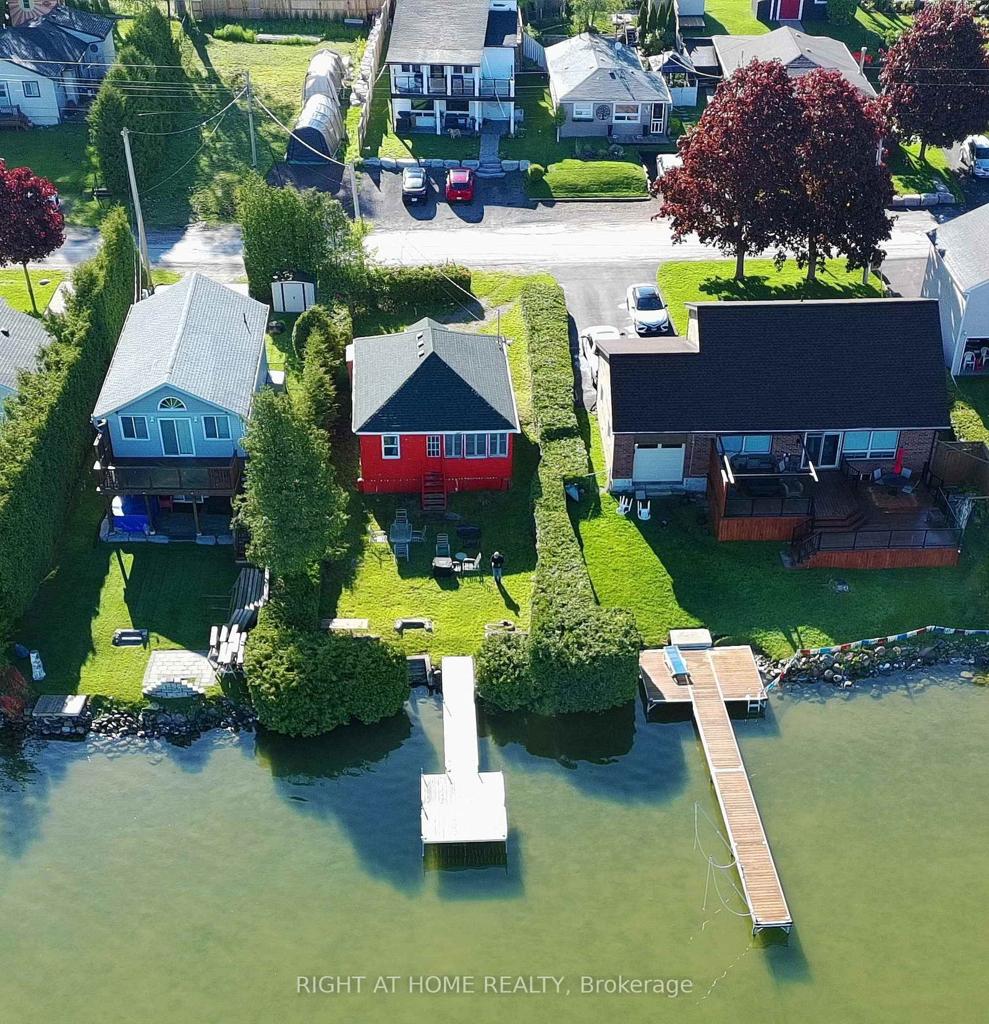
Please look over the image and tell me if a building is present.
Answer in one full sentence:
Yes, the photo shows a building.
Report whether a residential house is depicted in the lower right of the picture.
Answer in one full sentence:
No, no residential house appears in the lower right of the picture.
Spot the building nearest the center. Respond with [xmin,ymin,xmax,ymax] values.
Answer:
[351,315,520,491]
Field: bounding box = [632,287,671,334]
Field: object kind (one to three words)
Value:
car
